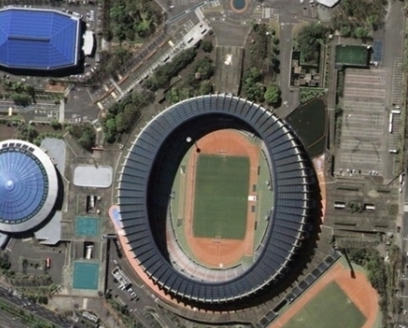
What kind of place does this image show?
sports ground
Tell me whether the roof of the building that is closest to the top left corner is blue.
Yes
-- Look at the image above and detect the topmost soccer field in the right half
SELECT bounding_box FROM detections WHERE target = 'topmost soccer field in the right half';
[334,42,373,69]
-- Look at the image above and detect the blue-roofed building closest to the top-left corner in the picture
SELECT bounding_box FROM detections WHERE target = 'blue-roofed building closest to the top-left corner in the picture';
[0,7,78,70]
